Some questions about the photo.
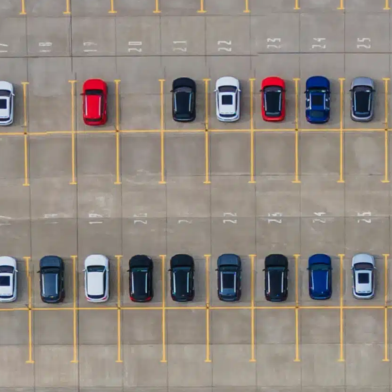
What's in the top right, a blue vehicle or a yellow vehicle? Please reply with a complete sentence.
Looking in the top right, you will find a blue vehicle.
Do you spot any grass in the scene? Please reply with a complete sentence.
No, the scene doesn't show any grass.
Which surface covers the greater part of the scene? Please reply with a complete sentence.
For the most part, this view shows paved ground.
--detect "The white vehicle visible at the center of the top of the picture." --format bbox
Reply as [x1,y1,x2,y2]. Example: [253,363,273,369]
[214,78,240,122]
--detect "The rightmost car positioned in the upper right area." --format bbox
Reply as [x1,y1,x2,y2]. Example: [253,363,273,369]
[350,78,375,122]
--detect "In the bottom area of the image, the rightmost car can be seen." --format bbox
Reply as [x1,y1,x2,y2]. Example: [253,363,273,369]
[350,254,376,299]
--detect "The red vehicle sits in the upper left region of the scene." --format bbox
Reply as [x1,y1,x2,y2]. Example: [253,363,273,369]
[81,80,107,127]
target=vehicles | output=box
[214,78,240,122]
[259,78,286,122]
[350,254,376,299]
[216,255,242,302]
[263,255,289,302]
[169,255,195,302]
[306,254,334,301]
[0,81,15,127]
[170,78,197,122]
[304,77,331,125]
[81,80,107,127]
[38,256,64,304]
[350,78,375,122]
[83,255,110,303]
[0,256,17,303]
[128,255,153,303]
